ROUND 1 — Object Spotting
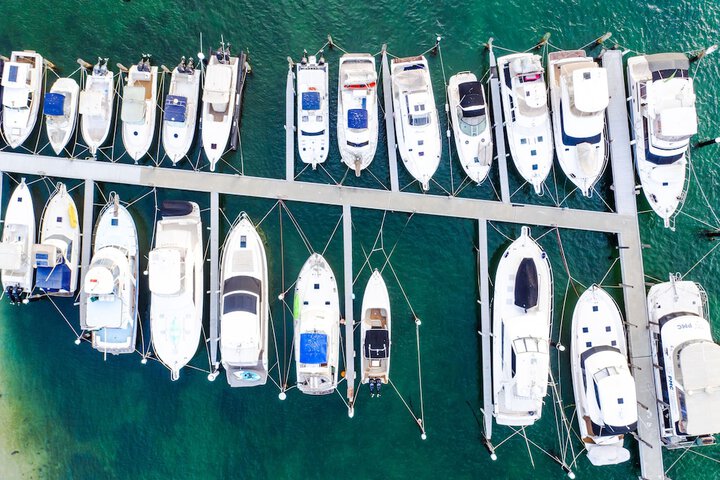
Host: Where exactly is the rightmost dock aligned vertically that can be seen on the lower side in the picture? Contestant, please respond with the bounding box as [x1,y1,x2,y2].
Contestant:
[615,210,664,480]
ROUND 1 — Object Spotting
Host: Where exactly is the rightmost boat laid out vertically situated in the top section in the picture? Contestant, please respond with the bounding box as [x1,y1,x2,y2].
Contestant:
[625,55,701,229]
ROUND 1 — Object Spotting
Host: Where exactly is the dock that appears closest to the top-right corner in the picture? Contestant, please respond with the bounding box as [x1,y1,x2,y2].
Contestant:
[603,50,638,212]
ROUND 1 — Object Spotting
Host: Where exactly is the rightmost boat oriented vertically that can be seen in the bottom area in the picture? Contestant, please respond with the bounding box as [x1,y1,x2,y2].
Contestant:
[641,275,720,450]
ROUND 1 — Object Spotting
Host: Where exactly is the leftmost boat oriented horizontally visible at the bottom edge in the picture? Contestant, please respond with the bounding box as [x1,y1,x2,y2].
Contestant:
[584,444,627,464]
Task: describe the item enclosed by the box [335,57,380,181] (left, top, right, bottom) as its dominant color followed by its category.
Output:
white boat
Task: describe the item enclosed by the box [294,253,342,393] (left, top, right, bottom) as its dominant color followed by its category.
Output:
white boat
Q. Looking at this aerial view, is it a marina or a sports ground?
marina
